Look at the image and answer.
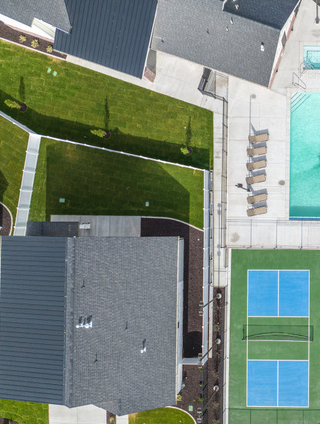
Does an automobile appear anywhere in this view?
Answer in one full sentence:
No, the photo shows no automobile.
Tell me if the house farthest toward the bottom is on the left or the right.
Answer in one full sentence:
The house farthest toward the bottom is on the left side of the image.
